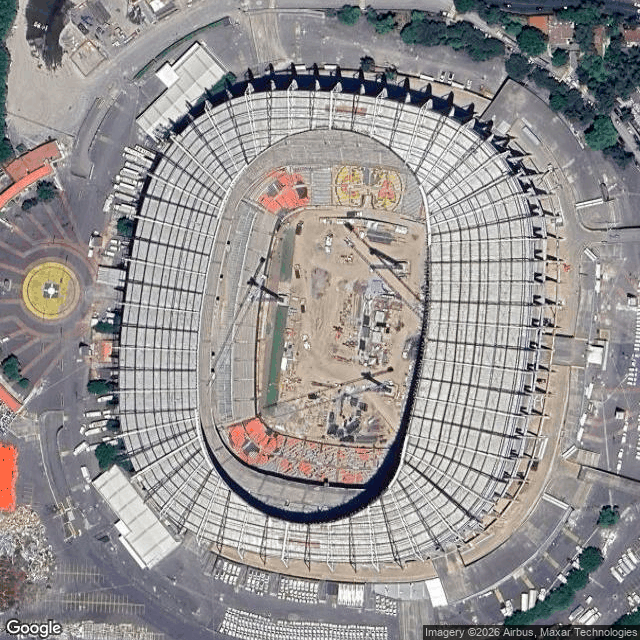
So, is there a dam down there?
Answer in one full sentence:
No, there isn't any dam down there.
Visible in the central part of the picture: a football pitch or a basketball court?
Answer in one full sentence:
The feature located in the central part of the picture is a football pitch.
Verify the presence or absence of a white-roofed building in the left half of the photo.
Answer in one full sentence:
Yes, the scene does show a white-roofed building in the left half of the photo.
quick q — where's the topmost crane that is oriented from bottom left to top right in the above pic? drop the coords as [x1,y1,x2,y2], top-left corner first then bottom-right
[209,275,288,382]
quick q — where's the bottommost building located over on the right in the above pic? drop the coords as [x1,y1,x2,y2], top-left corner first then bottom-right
[426,578,449,607]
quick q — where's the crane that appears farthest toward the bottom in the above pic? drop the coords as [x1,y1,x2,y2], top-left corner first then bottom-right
[271,383,394,418]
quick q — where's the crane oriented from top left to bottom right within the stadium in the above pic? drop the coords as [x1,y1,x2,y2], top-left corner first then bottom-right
[344,237,422,319]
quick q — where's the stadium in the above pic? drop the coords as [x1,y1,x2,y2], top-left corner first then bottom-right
[114,82,562,572]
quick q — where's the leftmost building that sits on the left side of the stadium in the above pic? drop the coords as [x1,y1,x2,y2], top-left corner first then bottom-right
[5,141,65,181]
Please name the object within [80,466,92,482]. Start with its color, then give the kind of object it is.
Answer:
white vehicle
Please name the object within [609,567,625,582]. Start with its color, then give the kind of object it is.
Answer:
white vehicle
